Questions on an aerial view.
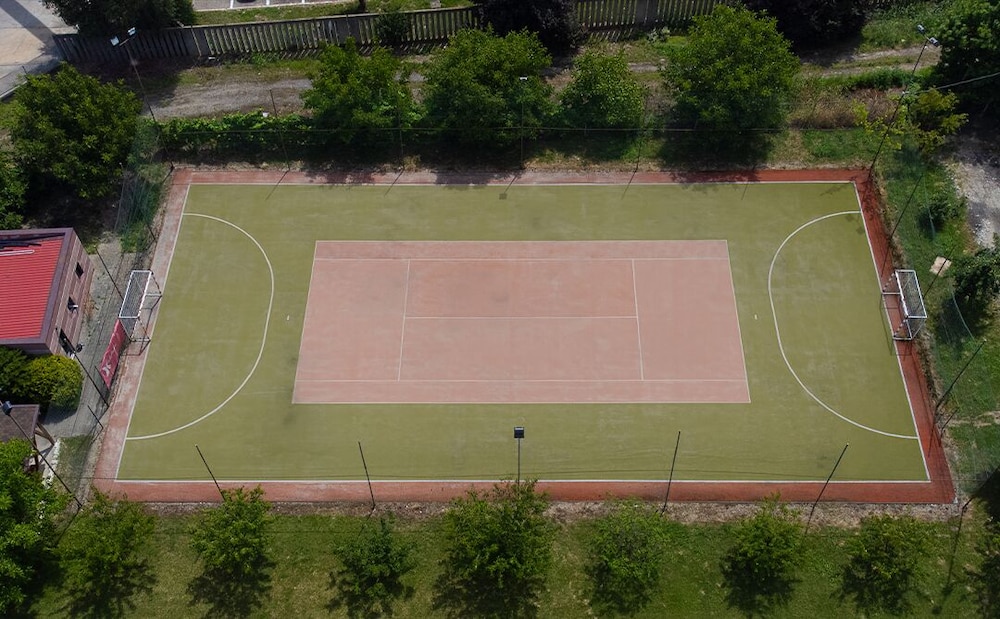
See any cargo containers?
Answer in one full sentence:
No, the picture doesn't show any cargo container.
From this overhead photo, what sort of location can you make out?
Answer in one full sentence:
This looks like a sports ground.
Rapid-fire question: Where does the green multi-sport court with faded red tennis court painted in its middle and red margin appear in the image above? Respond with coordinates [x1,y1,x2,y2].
[91,168,954,504]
